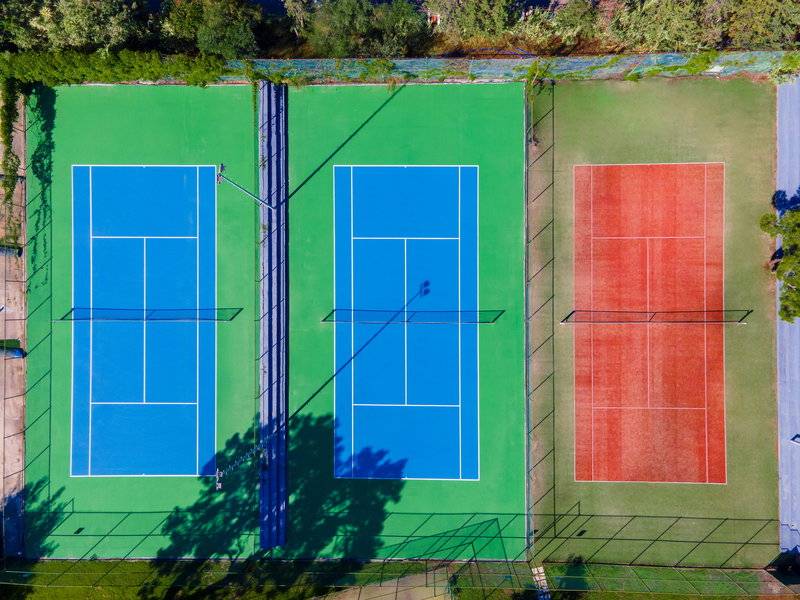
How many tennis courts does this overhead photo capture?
3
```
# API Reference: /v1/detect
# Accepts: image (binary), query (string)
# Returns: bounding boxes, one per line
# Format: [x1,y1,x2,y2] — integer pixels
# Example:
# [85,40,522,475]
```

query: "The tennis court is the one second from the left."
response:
[262,82,525,559]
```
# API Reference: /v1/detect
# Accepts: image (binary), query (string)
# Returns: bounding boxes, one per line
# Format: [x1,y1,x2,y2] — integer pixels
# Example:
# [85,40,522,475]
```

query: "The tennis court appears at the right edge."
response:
[530,80,777,569]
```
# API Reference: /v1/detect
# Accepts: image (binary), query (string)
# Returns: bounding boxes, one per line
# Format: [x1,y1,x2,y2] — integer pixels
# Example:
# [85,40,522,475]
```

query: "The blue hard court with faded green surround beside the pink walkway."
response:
[25,86,262,559]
